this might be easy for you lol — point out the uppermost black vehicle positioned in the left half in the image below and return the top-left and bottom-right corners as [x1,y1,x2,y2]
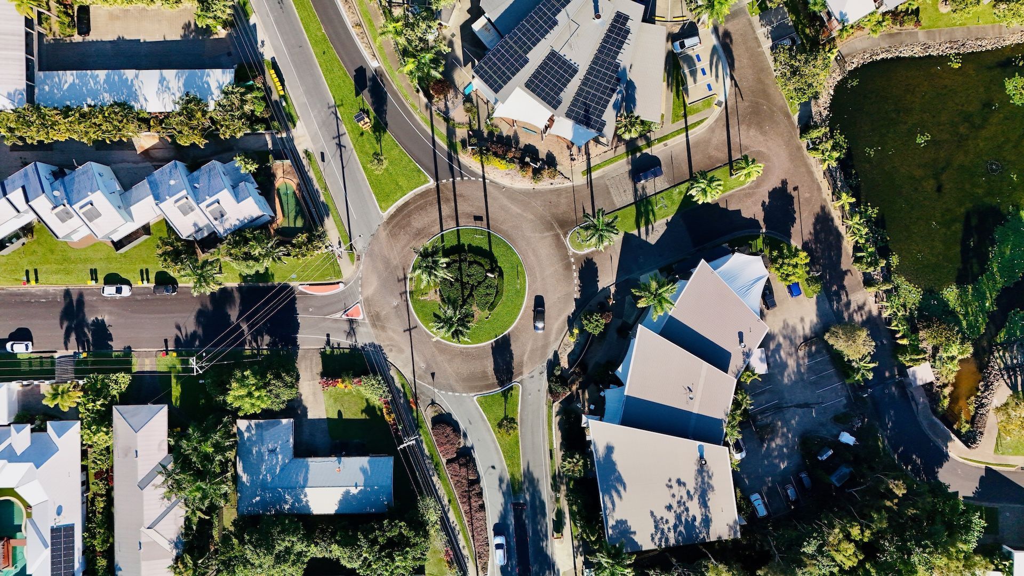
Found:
[73,5,92,38]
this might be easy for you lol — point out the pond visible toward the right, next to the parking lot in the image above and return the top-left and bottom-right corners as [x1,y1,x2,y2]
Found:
[833,45,1024,430]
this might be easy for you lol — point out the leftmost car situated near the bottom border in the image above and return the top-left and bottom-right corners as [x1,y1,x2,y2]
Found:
[492,535,507,567]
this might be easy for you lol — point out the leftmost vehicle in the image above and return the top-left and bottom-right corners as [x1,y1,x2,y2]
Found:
[5,341,35,355]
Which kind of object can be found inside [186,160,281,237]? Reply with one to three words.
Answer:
house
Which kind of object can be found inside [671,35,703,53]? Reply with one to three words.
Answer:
car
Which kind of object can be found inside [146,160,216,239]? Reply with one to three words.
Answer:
house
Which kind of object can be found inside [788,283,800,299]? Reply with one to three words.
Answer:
vehicle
